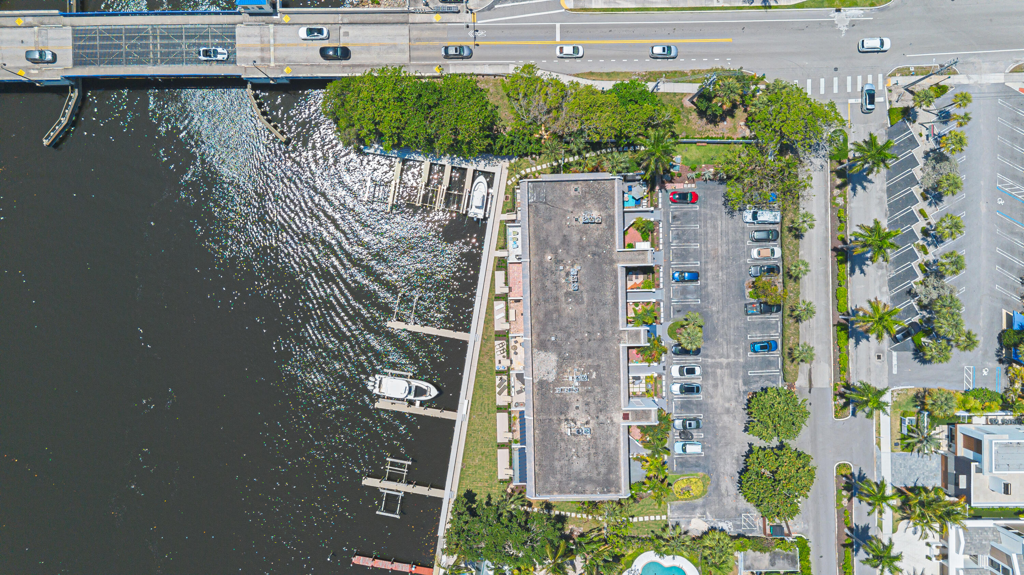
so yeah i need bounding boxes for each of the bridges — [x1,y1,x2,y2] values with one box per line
[0,8,472,85]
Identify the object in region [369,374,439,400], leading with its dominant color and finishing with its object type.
white boat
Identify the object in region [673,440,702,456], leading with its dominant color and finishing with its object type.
white car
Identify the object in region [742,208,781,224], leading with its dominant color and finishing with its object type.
white vehicle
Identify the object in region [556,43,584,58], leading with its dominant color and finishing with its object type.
white car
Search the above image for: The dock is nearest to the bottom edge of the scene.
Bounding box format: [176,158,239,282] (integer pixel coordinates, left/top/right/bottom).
[350,551,434,575]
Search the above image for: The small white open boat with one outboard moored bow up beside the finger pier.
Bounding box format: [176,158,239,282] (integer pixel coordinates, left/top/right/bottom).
[468,176,488,224]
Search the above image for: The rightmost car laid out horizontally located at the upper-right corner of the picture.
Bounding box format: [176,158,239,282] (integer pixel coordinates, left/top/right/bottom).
[857,35,890,51]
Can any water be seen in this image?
Yes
